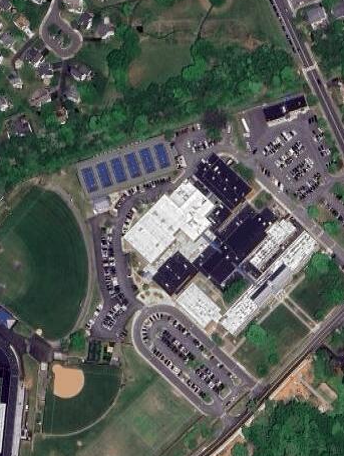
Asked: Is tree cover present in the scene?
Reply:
Yes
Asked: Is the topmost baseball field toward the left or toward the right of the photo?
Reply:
left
